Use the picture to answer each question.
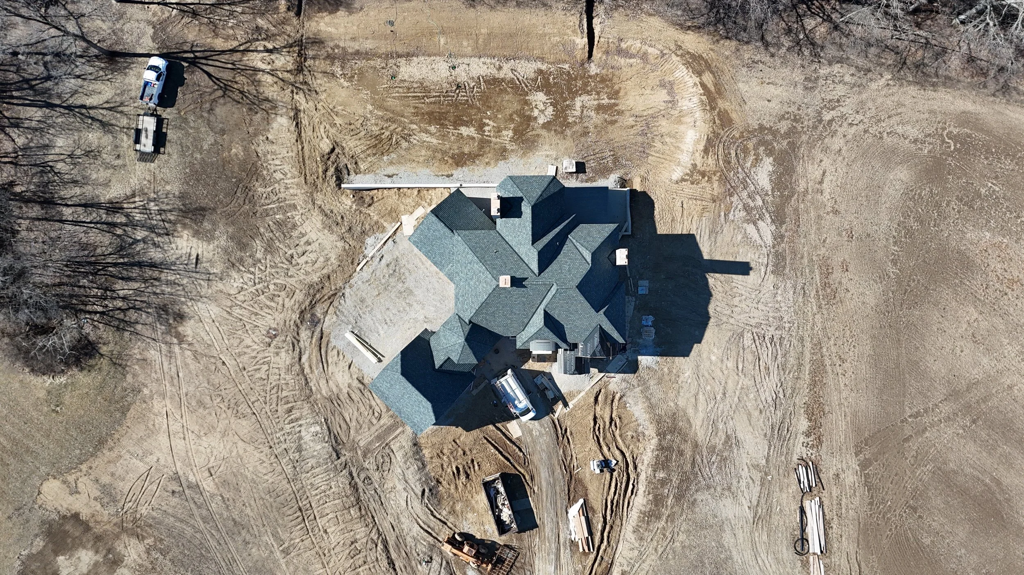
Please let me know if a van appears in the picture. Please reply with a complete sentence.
Yes, the frame does contain a van.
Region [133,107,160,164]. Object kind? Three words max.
trailer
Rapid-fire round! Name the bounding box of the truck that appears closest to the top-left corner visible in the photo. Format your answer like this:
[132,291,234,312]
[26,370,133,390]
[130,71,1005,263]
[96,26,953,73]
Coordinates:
[139,57,168,108]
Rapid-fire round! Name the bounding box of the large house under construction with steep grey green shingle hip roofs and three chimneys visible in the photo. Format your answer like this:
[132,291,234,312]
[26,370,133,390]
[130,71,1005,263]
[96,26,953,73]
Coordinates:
[370,175,628,435]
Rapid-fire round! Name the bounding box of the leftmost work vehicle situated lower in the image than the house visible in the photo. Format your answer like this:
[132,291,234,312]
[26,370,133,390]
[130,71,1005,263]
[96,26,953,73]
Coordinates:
[443,532,490,573]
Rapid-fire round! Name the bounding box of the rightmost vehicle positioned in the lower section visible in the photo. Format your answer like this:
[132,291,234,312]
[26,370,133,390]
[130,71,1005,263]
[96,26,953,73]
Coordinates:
[591,458,615,475]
